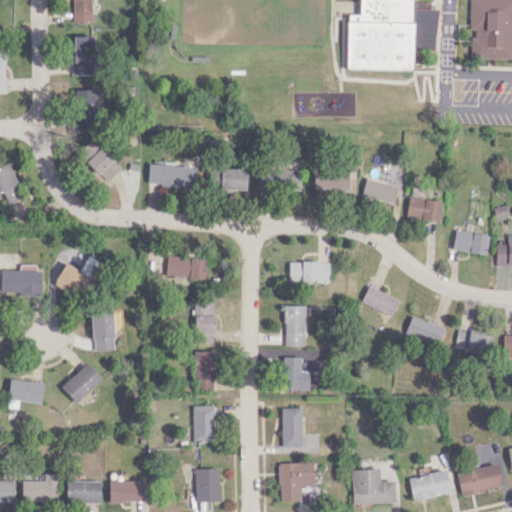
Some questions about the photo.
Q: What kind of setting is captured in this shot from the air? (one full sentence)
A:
The area seen from above is a residential area.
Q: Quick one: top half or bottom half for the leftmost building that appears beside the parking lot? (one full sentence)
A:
The leftmost building that appears beside the parking lot is in the top half of the image.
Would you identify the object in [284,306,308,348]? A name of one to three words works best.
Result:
house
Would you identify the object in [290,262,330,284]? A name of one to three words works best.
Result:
house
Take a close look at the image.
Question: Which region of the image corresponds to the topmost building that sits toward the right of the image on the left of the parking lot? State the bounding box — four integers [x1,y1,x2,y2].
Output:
[348,0,417,71]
